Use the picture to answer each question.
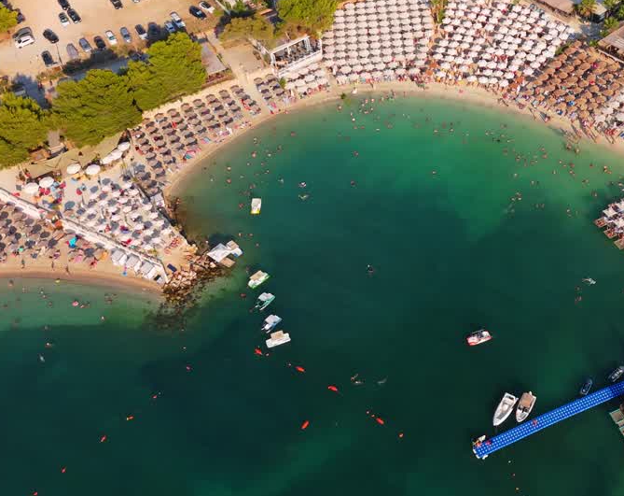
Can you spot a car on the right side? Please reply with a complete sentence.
No, on the right side there is no car.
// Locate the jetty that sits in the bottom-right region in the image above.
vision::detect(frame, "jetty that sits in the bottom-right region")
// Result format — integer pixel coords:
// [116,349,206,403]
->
[467,383,624,459]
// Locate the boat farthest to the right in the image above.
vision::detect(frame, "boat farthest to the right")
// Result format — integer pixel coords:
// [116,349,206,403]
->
[607,366,623,383]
